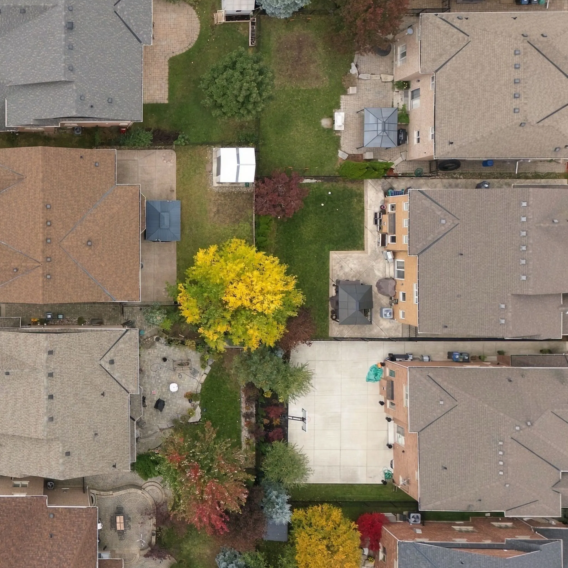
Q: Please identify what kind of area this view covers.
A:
residential area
